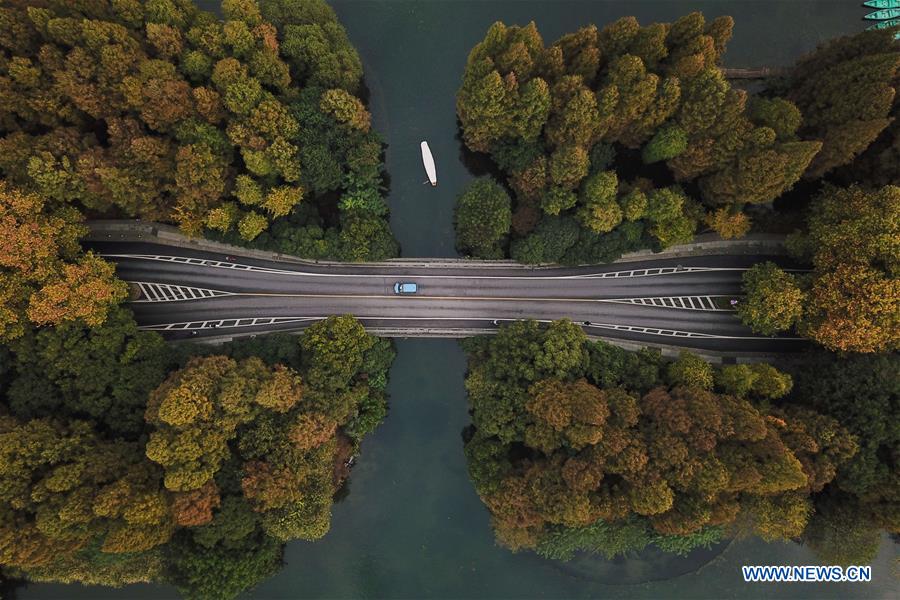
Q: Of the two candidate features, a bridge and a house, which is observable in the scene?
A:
bridge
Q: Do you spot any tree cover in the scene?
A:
Yes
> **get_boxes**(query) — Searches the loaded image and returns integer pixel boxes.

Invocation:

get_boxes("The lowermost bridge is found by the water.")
[383,257,520,337]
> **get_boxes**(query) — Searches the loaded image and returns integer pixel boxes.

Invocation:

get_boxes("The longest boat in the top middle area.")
[421,140,437,187]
